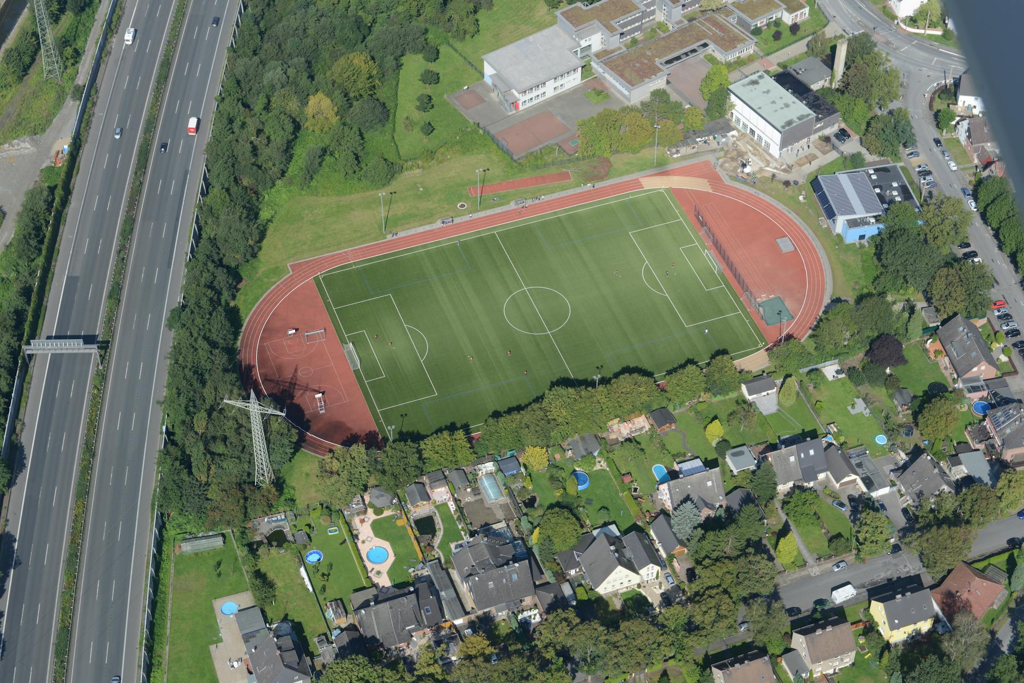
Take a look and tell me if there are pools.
Yes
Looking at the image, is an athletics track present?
Yes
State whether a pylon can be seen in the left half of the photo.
Yes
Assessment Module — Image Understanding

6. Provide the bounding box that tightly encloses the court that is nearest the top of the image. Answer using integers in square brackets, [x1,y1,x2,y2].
[495,110,570,155]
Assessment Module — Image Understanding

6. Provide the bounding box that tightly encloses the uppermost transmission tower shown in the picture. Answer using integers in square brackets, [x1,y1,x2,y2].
[30,0,66,84]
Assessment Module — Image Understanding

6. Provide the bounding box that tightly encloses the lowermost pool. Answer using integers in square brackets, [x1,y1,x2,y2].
[221,601,239,618]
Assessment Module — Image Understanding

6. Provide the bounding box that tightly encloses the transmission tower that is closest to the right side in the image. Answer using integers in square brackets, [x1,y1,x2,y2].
[218,391,291,491]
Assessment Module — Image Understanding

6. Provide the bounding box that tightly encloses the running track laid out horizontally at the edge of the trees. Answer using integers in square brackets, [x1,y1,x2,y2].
[239,179,824,463]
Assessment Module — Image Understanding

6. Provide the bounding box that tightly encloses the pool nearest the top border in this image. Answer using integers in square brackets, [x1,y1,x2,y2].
[972,401,991,417]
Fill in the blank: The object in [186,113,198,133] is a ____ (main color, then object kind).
white vehicle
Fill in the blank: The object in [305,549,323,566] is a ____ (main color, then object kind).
blue swimming pool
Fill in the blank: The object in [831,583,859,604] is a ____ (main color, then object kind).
white vehicle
